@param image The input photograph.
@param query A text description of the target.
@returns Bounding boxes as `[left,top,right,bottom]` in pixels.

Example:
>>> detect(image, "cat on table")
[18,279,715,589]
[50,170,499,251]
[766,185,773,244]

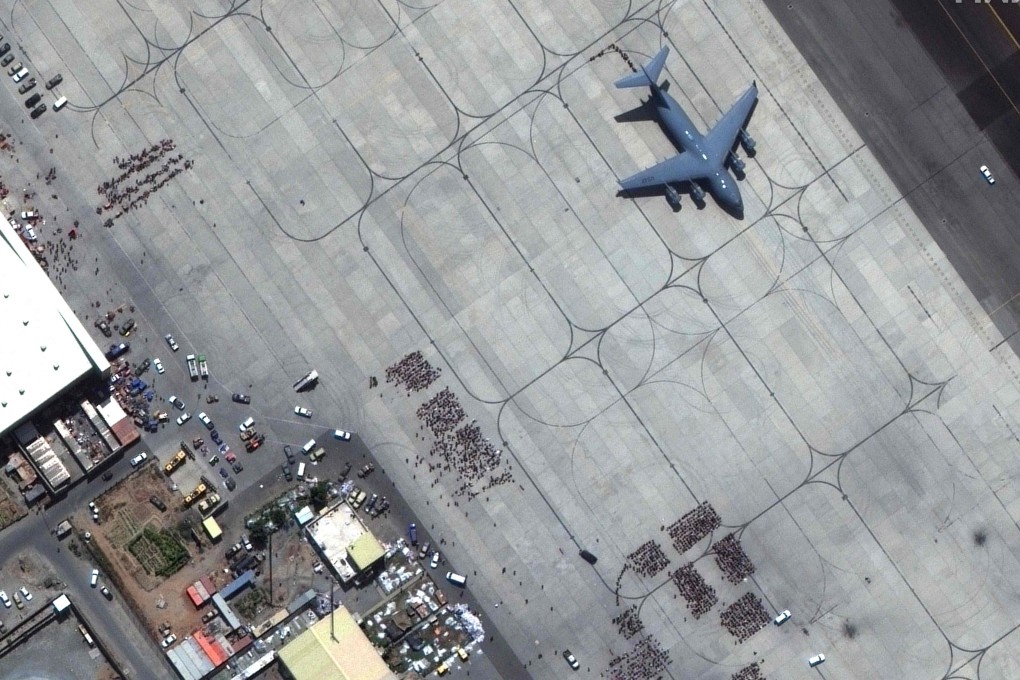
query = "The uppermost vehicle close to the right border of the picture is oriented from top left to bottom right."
[981,166,994,183]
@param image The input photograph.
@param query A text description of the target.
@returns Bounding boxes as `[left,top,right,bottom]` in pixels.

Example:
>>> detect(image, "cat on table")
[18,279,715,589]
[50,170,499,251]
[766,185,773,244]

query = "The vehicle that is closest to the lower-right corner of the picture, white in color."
[809,653,826,666]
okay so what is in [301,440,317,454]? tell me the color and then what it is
white vehicle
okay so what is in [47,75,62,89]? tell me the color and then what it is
gray vehicle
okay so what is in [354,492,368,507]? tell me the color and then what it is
white vehicle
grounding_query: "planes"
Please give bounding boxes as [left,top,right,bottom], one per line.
[614,45,758,210]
